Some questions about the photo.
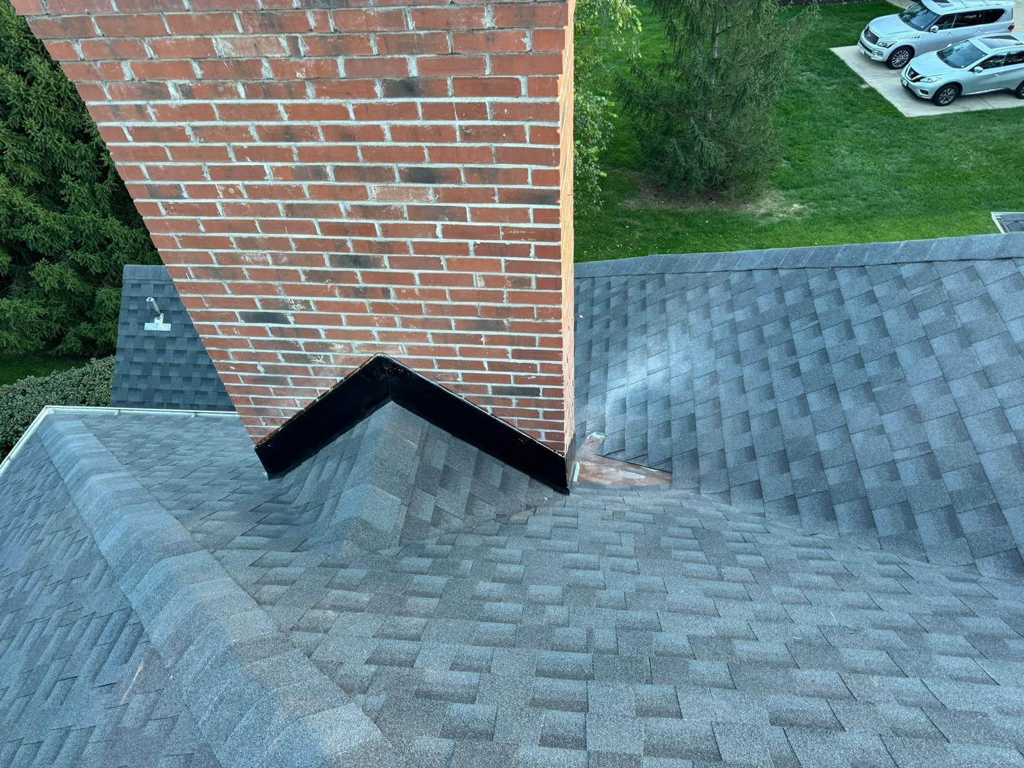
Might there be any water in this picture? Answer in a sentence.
No, the picture contains no water.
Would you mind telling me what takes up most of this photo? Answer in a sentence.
What you mostly see from above here is buildings.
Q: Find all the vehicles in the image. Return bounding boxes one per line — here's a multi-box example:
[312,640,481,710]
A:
[860,0,1024,69]
[905,33,1024,106]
